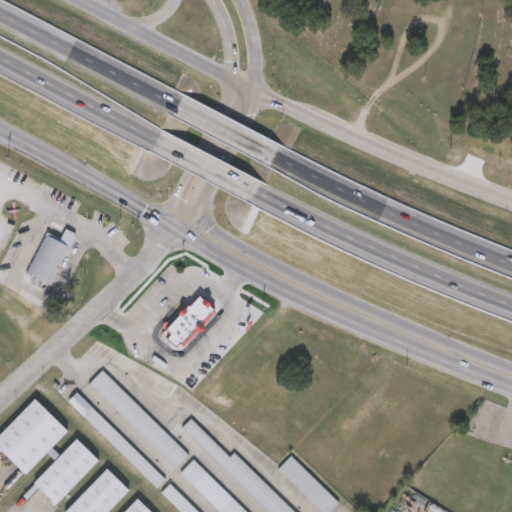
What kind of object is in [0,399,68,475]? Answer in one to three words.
building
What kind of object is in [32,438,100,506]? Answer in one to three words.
building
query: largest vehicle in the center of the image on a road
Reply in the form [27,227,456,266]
[284,208,313,225]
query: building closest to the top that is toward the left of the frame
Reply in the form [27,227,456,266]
[27,228,76,284]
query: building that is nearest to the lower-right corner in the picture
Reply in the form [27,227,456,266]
[279,456,338,512]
